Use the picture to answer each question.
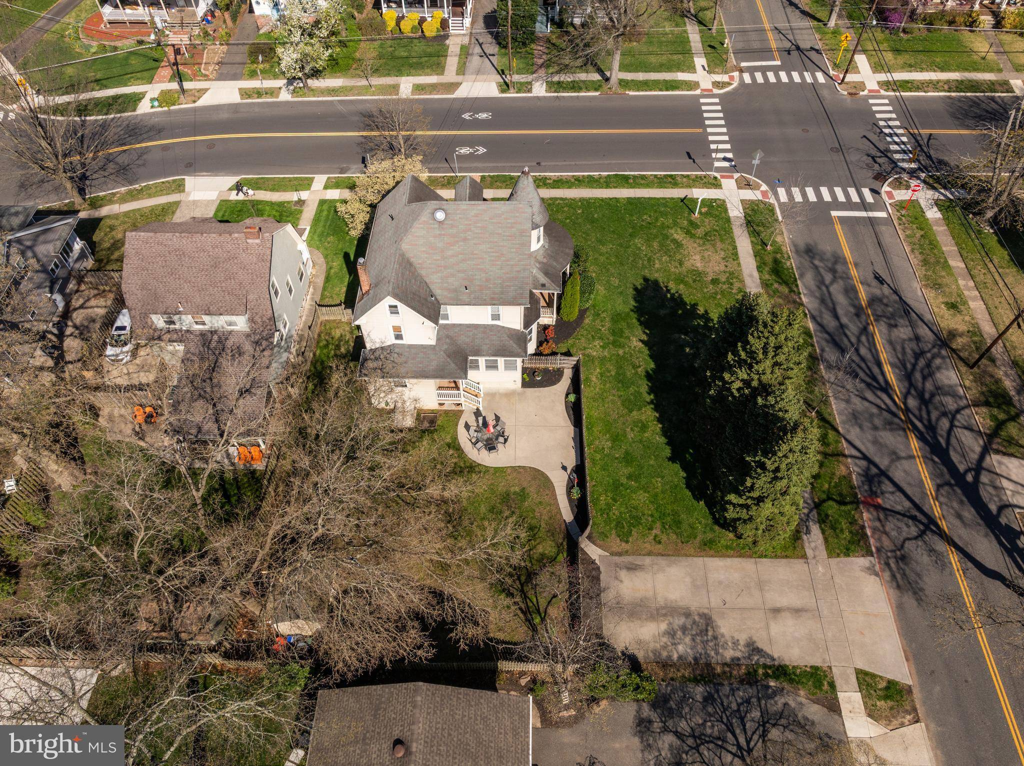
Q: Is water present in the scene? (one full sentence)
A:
No, there is no water in the image.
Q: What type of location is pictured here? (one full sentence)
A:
This looks like a residential area.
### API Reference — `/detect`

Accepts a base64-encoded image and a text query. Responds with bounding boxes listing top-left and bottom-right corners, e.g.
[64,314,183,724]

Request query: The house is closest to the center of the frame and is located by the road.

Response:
[351,164,577,411]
